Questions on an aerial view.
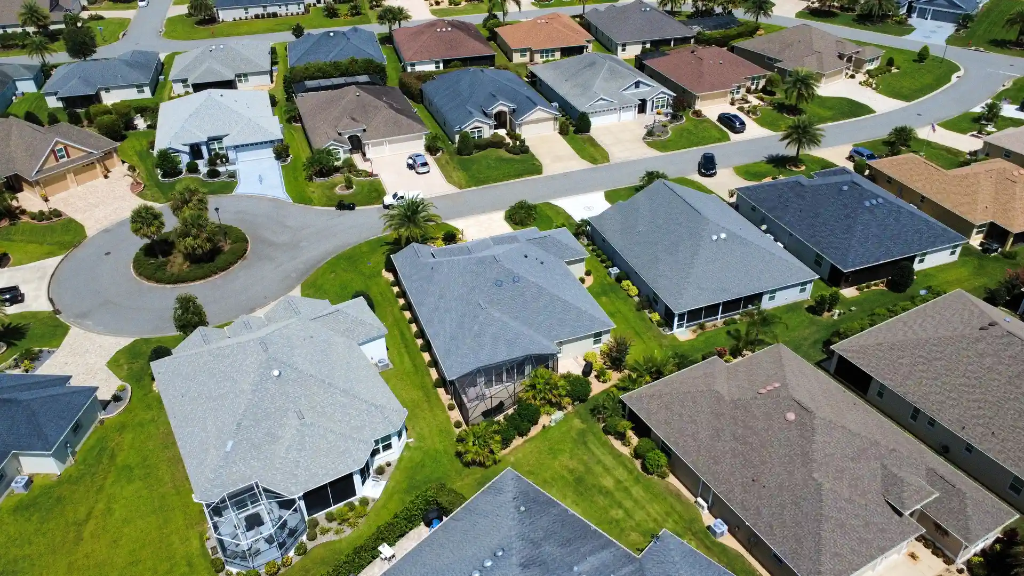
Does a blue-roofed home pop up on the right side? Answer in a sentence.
Yes, the scene does show a blue-roofed home on the right side.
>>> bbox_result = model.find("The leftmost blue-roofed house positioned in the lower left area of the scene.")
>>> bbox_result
[0,373,109,500]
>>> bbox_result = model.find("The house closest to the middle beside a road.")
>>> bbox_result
[390,227,617,425]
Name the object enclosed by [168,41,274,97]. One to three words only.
house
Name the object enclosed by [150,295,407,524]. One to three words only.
house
